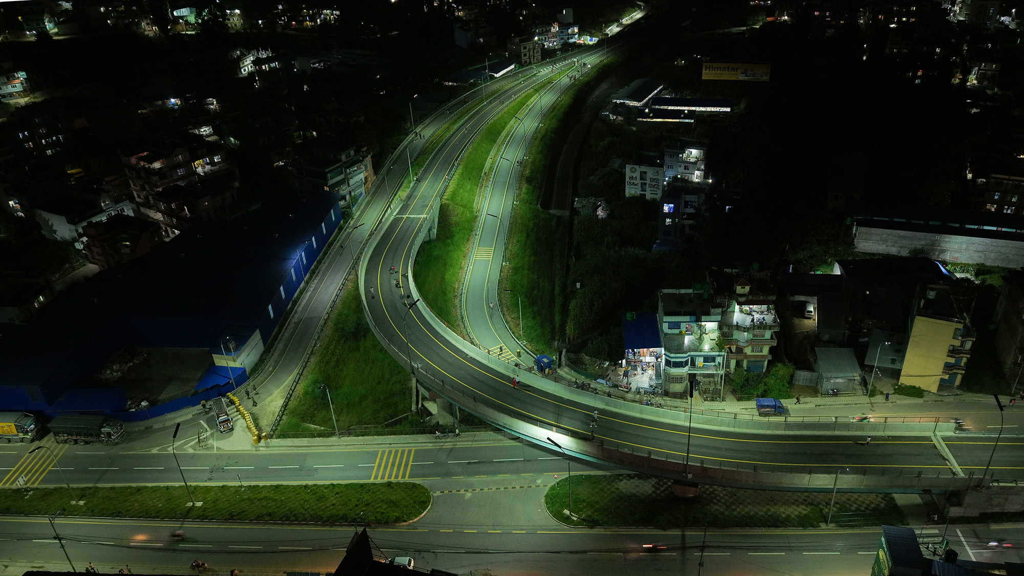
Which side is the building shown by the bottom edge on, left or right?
right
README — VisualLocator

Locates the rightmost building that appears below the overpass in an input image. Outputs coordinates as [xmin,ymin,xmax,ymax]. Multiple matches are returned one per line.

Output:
[863,525,929,576]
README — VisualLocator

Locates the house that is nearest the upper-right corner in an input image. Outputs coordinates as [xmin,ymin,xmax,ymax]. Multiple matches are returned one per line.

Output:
[973,0,1015,28]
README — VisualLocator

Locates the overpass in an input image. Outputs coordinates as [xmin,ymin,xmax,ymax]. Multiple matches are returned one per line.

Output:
[360,202,1017,506]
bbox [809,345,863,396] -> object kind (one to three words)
shed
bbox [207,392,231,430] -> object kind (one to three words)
truck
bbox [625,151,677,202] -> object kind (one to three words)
building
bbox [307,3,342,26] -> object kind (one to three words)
house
